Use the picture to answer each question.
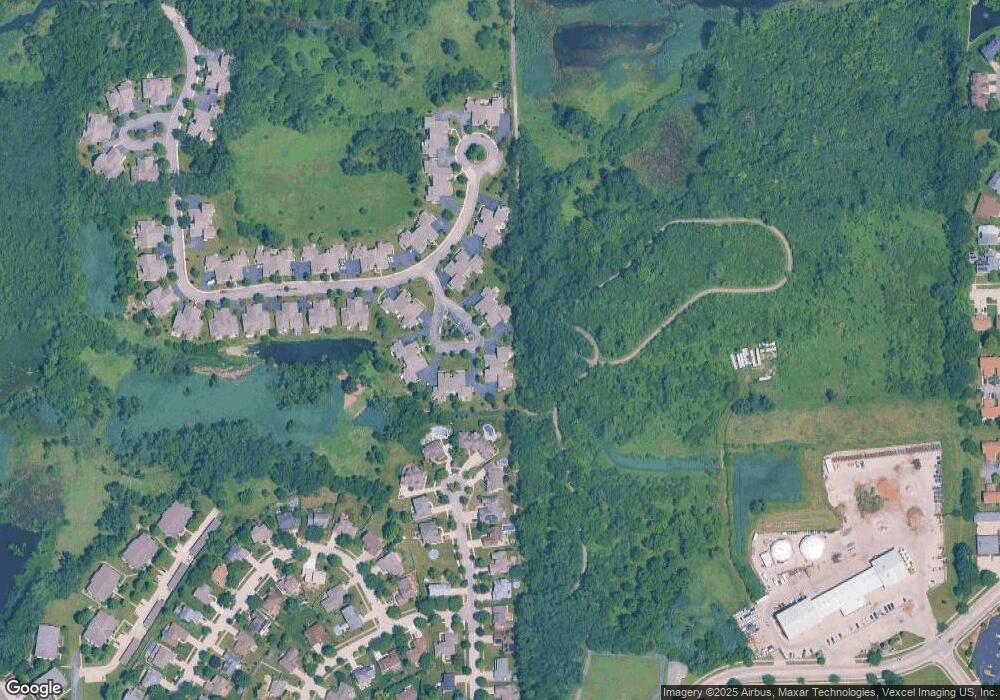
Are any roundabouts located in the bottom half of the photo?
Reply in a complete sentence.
No, there's no roundabout to be seen in the bottom half of the photo.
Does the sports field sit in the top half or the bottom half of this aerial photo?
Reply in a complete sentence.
The sports field sits in the bottom half of the picture.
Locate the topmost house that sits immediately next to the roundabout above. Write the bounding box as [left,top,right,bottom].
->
[467,95,504,124]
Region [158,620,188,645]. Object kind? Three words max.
house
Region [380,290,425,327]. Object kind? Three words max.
house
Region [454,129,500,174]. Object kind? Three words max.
roundabout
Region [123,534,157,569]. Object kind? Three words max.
building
